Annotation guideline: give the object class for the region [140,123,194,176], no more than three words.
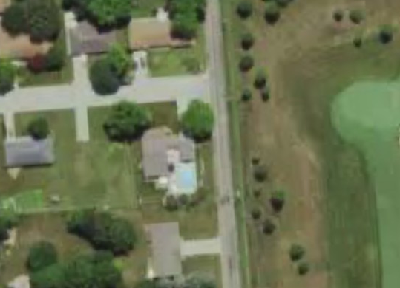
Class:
house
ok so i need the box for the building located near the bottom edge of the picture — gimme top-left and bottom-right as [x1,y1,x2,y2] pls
[150,222,179,279]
